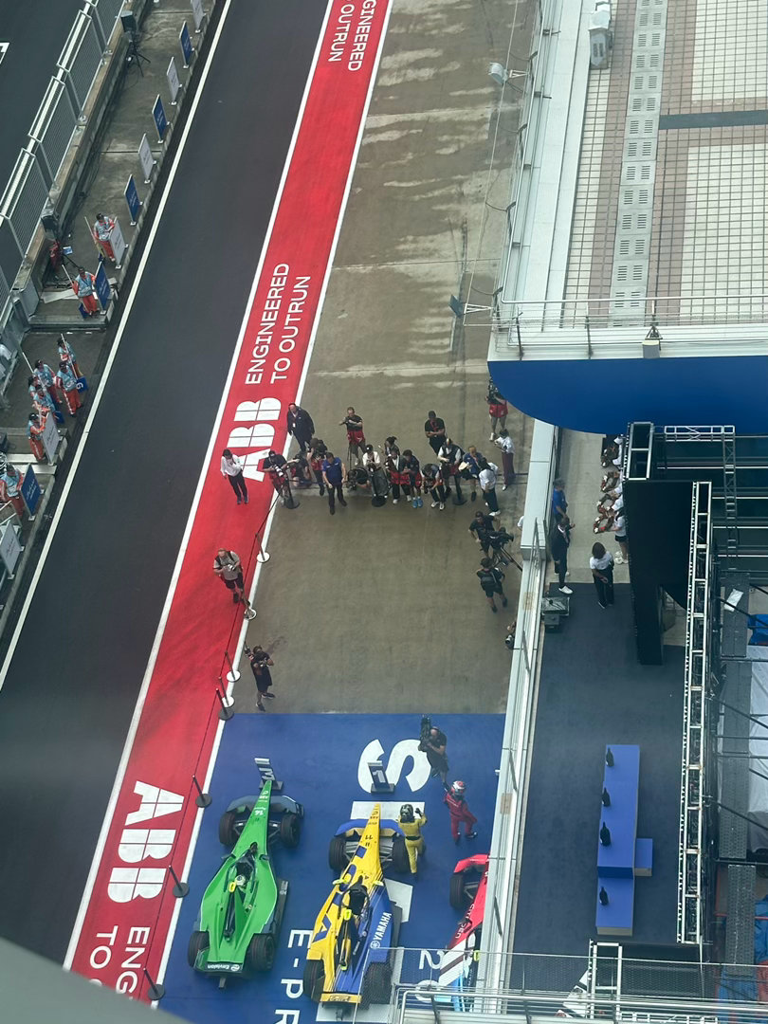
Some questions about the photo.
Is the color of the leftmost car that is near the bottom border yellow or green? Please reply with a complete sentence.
The color of the leftmost car that is near the bottom border is green.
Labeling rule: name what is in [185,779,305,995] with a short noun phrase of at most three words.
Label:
car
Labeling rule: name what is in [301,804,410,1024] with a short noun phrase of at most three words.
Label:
car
